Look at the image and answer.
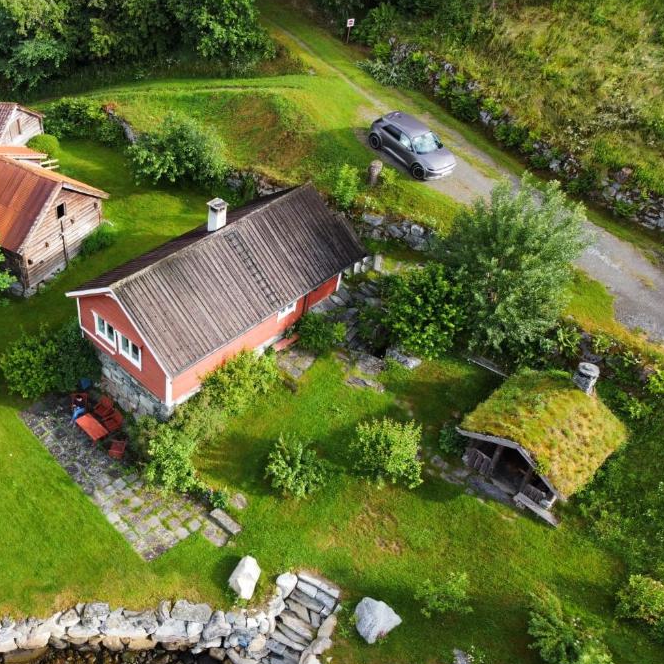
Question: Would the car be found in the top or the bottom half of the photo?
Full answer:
The car is in the top half of the image.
